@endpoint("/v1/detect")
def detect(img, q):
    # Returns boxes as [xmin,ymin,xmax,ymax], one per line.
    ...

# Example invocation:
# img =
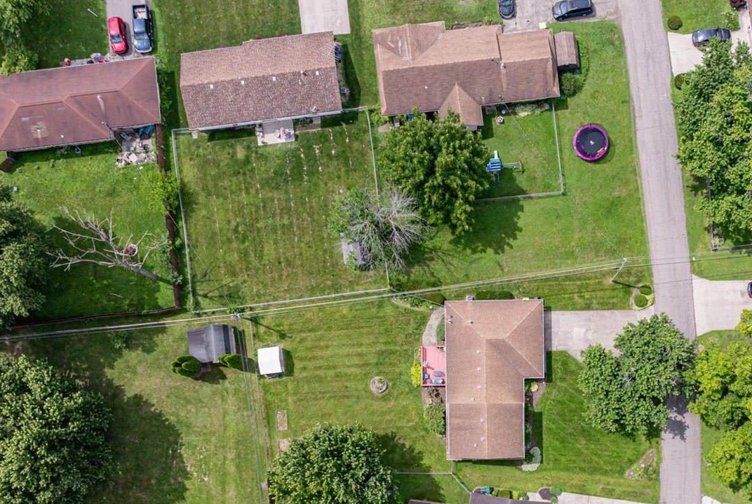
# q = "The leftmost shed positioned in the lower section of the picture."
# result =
[186,324,235,369]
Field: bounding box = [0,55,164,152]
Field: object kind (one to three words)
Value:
house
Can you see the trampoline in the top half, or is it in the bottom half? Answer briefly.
top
